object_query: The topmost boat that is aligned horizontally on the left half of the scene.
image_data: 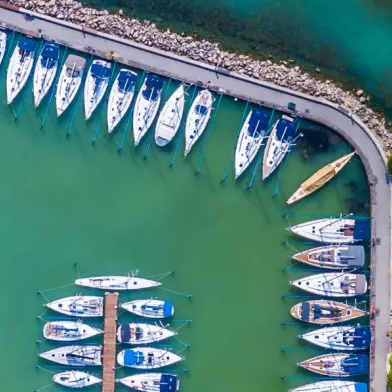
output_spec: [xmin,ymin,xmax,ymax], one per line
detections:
[42,268,190,296]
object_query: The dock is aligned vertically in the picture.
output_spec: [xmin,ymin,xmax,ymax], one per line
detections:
[102,292,118,392]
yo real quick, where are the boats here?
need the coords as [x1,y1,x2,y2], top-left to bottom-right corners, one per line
[36,342,103,368]
[133,69,167,146]
[116,322,189,346]
[283,241,371,271]
[289,270,371,299]
[55,50,87,117]
[39,318,105,342]
[42,268,190,296]
[115,370,187,392]
[37,367,103,391]
[223,105,271,181]
[117,296,189,321]
[183,86,215,157]
[282,324,375,352]
[262,113,299,195]
[107,63,140,133]
[282,351,373,379]
[39,292,103,319]
[82,55,113,121]
[287,378,373,392]
[274,151,357,204]
[114,346,187,370]
[154,80,191,150]
[283,298,372,325]
[32,38,61,108]
[285,214,376,245]
[6,32,37,117]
